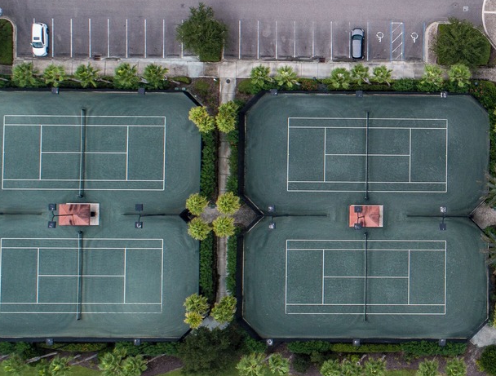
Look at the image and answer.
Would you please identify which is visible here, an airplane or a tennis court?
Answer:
tennis court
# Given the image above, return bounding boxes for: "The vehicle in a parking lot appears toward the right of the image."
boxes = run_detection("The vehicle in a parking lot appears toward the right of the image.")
[350,29,365,59]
